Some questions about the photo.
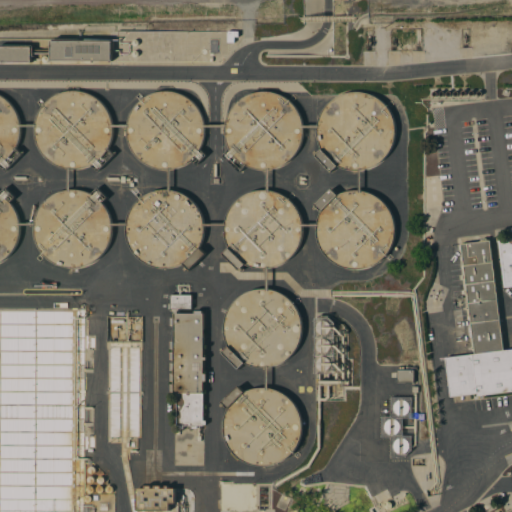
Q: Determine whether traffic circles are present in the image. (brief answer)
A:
No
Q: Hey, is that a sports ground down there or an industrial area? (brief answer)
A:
industrial area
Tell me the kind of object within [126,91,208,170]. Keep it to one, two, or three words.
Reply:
storage tank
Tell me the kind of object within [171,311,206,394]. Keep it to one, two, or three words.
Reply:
building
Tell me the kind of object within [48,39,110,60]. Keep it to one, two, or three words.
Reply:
shed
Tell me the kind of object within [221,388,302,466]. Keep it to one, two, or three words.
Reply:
storage tank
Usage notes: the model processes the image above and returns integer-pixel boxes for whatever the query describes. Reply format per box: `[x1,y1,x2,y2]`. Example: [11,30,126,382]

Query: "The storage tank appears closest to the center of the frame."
[222,190,302,269]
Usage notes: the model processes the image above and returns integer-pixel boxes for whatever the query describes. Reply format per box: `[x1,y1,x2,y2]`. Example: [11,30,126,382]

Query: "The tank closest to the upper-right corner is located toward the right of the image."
[316,92,396,171]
